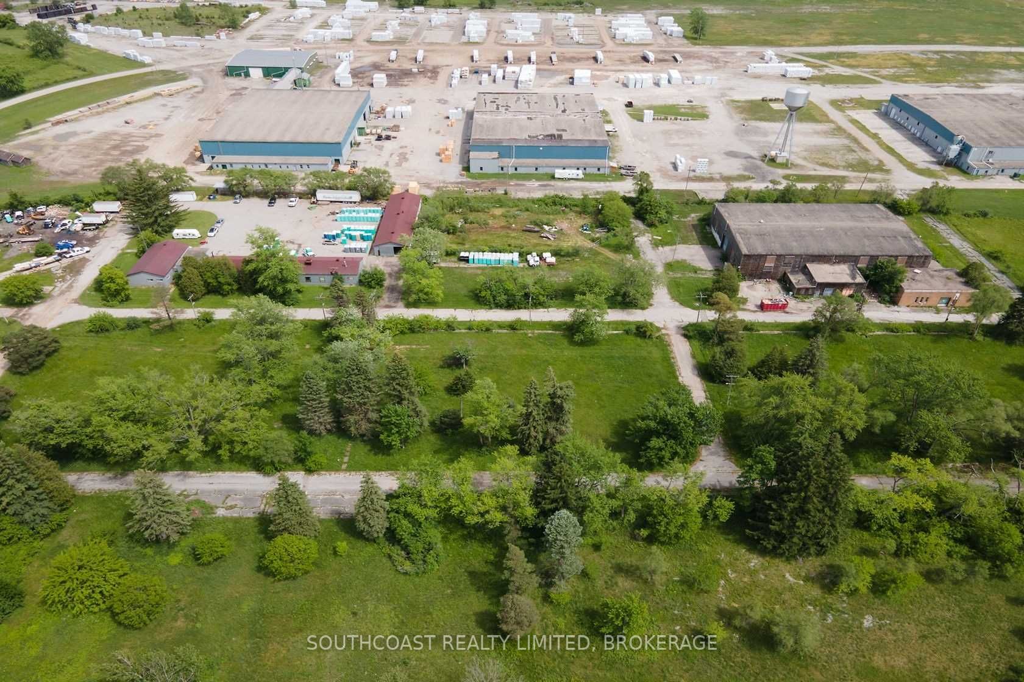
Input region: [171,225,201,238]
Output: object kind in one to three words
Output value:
vehicle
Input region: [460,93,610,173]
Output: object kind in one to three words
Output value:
building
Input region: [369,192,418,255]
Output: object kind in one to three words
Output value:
building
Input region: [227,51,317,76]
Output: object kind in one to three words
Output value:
barn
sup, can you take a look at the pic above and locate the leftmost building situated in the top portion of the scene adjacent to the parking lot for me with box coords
[123,240,195,286]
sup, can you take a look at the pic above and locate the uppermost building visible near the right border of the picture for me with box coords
[884,94,1024,176]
